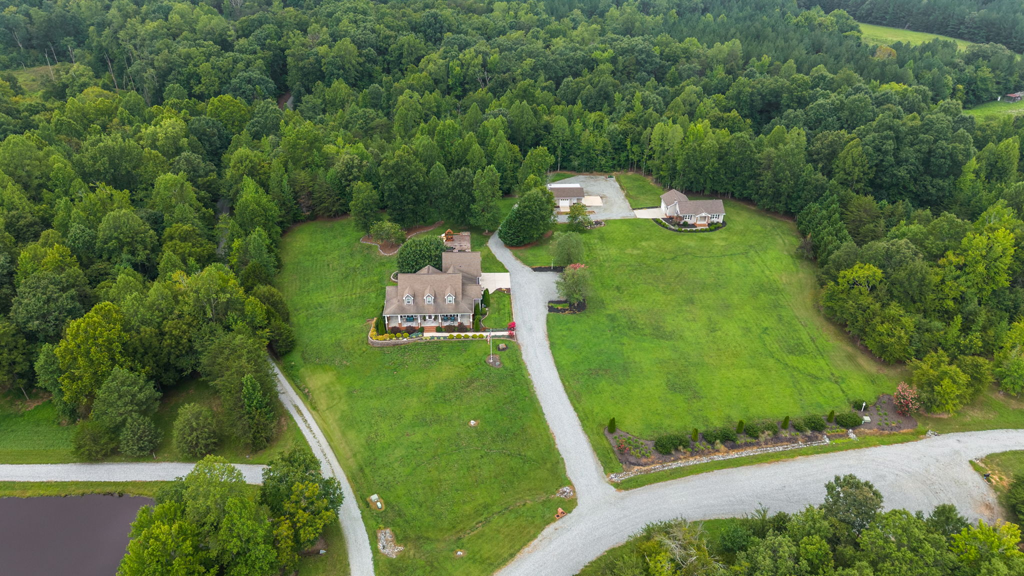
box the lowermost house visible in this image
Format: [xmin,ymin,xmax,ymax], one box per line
[383,251,481,333]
